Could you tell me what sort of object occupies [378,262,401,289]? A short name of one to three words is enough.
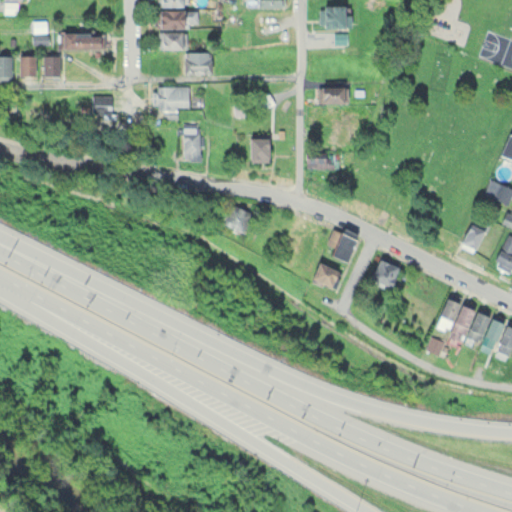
house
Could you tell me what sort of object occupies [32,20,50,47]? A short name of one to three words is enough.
building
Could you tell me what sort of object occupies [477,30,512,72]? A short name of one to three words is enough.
basketball court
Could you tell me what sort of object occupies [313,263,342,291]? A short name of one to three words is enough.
house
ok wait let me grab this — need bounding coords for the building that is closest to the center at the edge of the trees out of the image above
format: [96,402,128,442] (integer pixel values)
[224,210,252,236]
